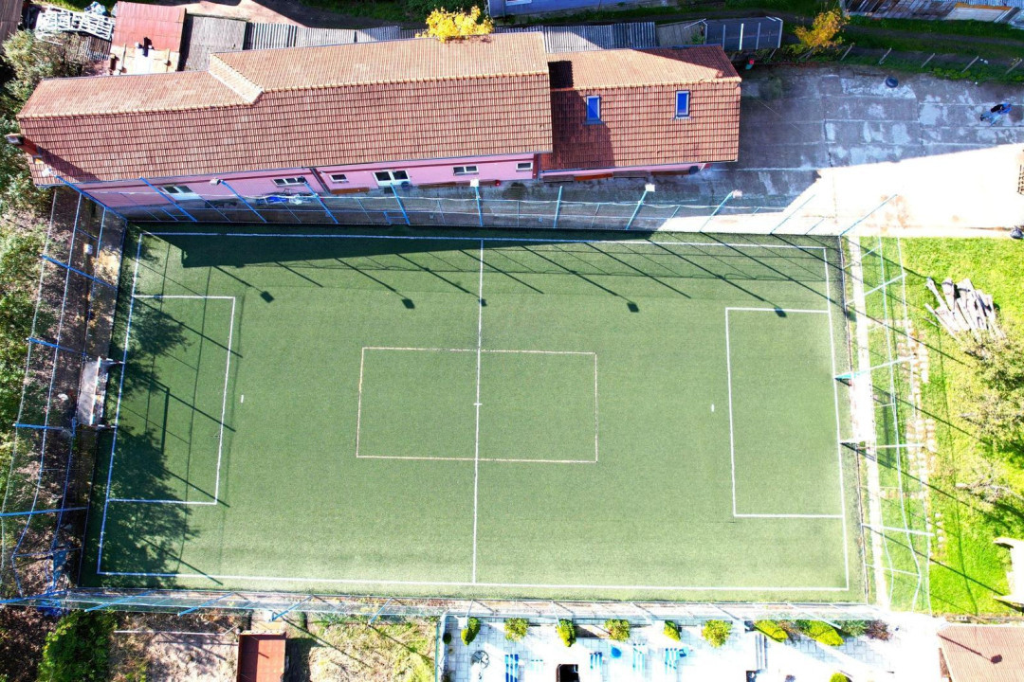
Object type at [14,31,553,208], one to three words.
house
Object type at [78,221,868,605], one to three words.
soccer field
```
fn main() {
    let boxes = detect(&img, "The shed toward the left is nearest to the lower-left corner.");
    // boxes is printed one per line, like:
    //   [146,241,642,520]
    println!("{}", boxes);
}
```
[233,629,291,682]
